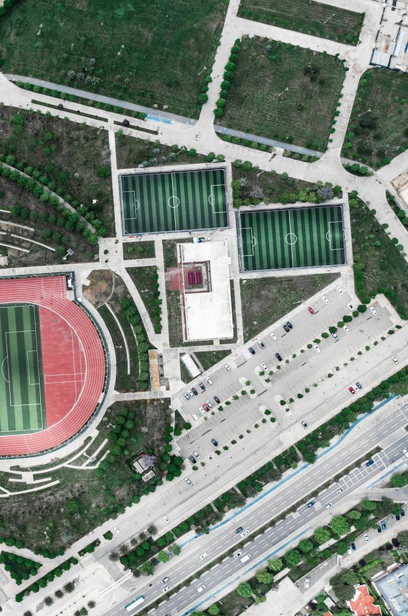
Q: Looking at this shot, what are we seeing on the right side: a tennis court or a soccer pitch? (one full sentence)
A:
The feature located on the right side is a soccer pitch.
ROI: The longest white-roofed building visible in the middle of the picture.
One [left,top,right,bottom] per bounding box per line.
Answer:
[174,238,235,343]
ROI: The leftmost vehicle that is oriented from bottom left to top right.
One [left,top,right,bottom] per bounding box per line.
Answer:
[127,596,146,613]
